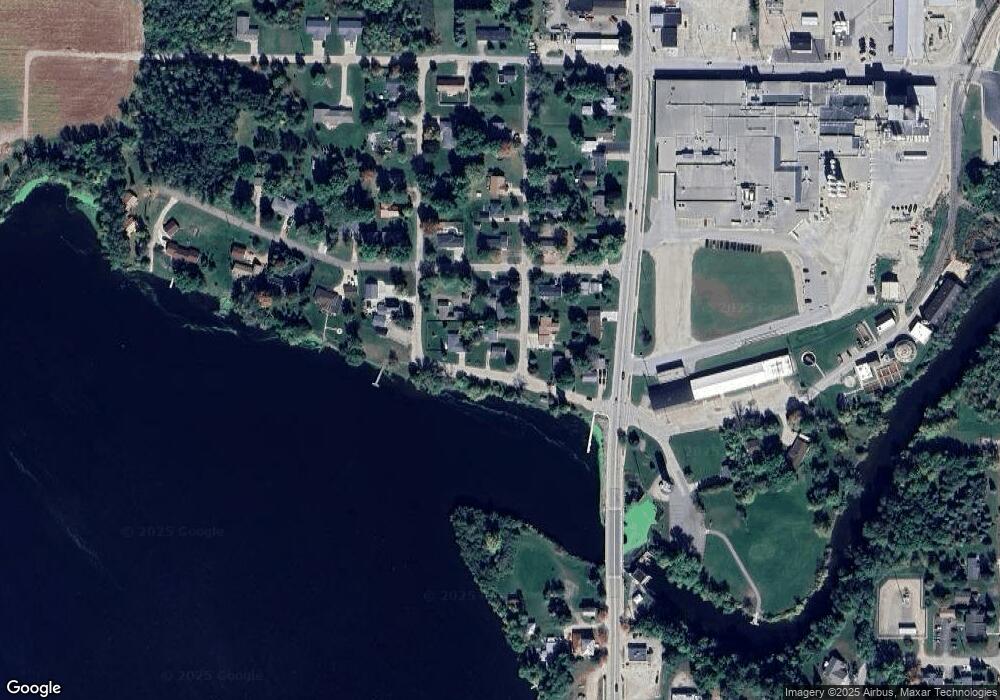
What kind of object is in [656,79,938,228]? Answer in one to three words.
building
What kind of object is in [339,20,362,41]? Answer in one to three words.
house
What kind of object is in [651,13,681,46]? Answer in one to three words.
building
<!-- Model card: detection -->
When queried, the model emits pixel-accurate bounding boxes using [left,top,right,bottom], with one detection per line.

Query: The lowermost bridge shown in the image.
[605,509,624,578]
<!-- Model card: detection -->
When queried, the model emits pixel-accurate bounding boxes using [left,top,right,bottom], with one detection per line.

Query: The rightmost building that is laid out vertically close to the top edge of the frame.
[895,0,923,58]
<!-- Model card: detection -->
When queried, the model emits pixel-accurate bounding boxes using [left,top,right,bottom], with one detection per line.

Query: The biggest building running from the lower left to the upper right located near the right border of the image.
[921,275,966,324]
